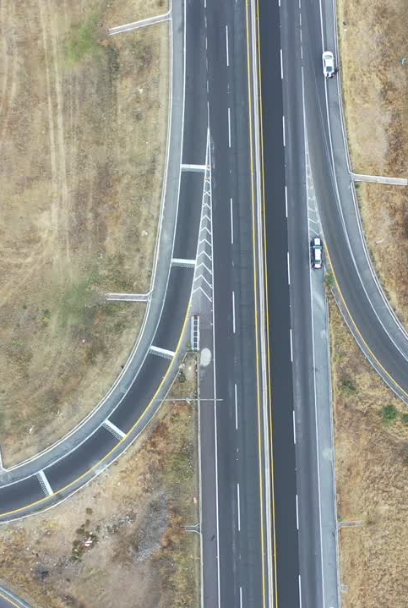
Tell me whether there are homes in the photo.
No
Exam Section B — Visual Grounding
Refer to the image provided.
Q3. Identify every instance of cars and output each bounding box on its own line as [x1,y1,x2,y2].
[323,52,336,75]
[311,239,324,266]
